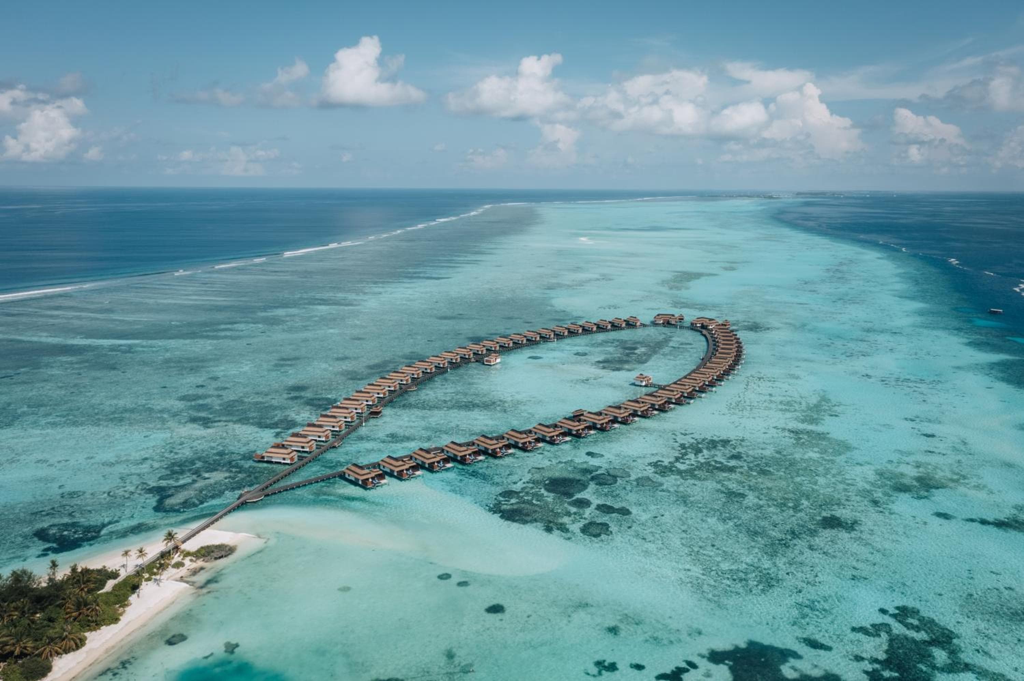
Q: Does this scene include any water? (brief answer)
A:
Yes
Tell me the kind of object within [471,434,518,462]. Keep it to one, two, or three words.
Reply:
house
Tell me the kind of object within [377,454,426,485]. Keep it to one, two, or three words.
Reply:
house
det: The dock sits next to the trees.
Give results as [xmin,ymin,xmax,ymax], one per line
[110,325,714,584]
